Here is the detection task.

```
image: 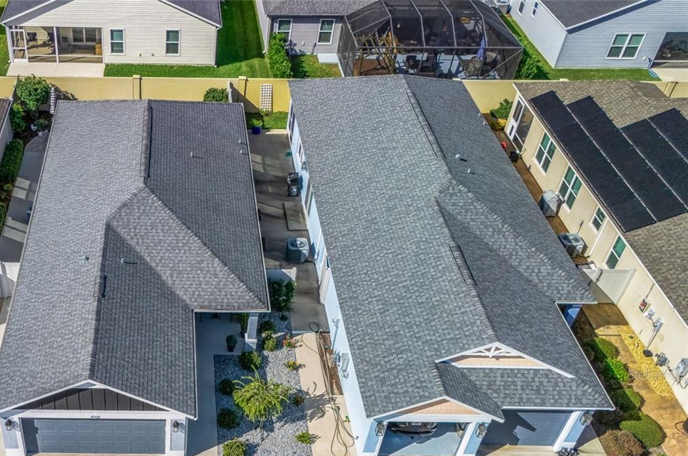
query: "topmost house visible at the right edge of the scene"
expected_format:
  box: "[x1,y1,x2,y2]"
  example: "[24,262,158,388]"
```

[519,0,688,70]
